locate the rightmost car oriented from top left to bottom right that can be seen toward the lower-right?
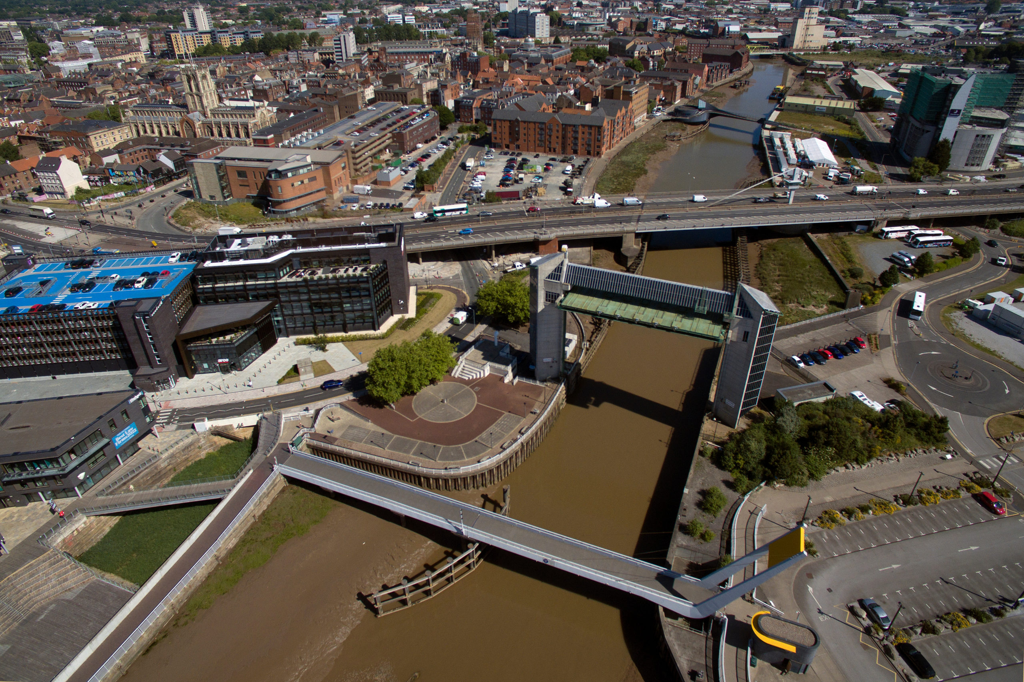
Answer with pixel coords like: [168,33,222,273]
[975,490,1004,513]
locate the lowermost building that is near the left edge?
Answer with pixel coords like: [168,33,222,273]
[0,388,160,507]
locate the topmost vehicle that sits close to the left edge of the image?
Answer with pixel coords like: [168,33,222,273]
[26,202,57,219]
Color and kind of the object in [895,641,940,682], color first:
black car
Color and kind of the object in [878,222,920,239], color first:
white vehicle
